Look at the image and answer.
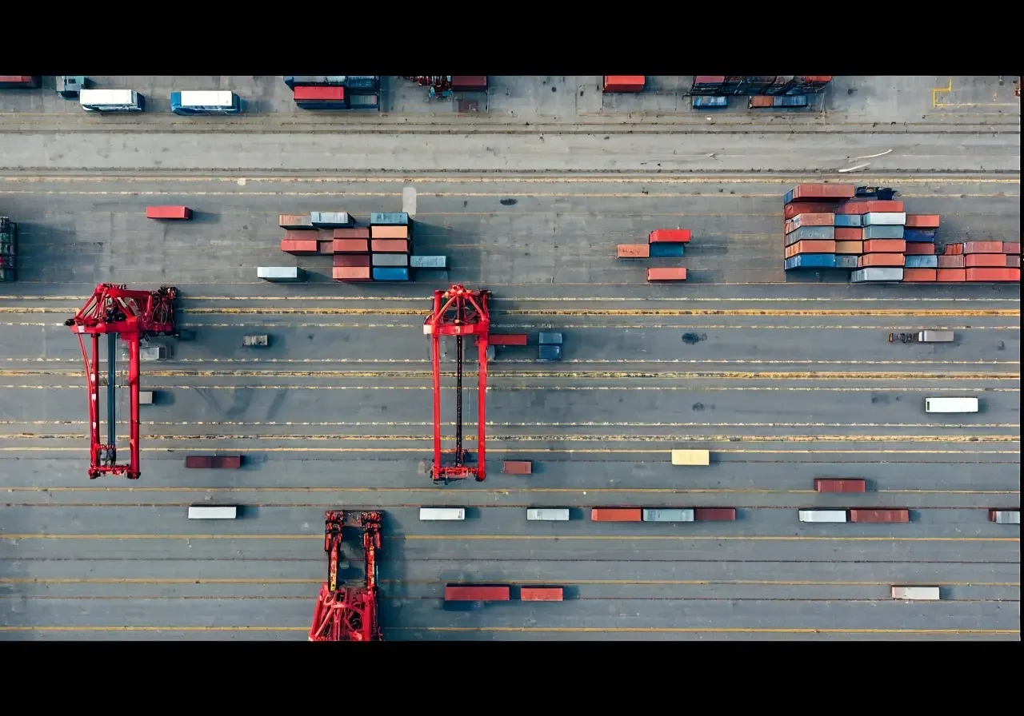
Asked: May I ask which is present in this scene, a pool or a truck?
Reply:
truck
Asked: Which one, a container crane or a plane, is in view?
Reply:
container crane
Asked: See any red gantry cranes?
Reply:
Yes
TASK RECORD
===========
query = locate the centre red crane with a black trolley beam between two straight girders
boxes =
[423,282,492,484]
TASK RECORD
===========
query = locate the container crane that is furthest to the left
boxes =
[63,283,185,480]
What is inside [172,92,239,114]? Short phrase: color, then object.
white bus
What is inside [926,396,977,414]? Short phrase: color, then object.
white vehicle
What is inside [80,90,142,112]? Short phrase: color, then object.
white bus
